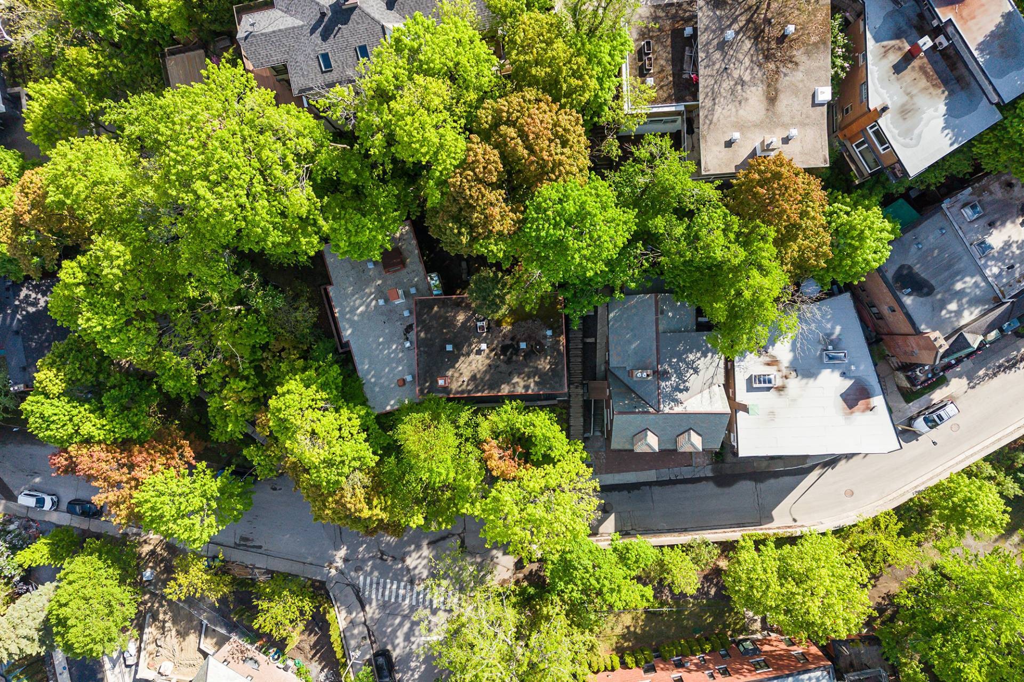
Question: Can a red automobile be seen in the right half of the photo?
No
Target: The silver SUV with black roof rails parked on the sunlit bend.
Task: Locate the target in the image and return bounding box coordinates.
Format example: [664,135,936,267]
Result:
[906,397,961,435]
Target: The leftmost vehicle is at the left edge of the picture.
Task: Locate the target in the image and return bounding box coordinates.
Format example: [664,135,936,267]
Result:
[16,486,62,513]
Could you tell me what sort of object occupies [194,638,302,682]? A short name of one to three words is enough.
house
